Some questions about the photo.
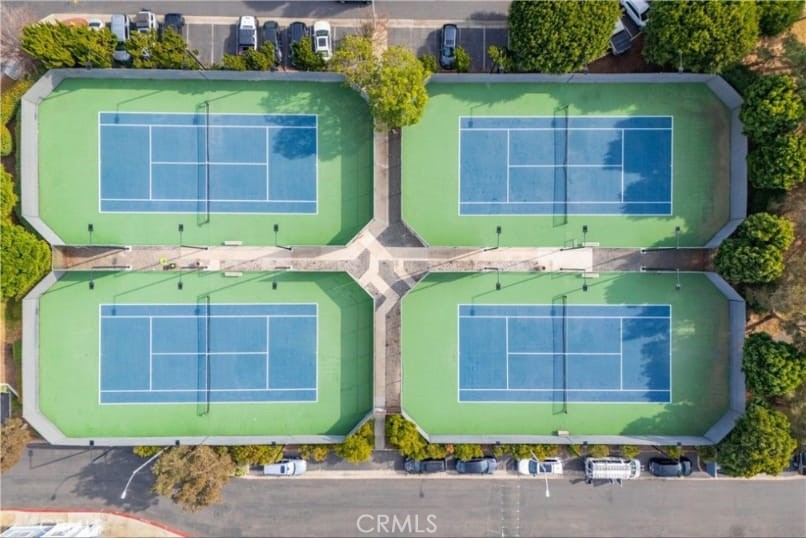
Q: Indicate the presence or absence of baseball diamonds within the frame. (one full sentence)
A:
No, I can see no baseball diamond in this picture.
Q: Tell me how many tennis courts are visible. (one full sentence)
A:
The picture shows 4 tennis courts.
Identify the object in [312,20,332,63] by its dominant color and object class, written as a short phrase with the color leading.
white car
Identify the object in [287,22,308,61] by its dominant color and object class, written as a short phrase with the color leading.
blue car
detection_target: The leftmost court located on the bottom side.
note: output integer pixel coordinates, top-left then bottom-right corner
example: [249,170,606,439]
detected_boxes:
[39,271,372,436]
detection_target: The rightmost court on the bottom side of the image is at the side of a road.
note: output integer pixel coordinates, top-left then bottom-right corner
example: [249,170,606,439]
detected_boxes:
[402,272,730,436]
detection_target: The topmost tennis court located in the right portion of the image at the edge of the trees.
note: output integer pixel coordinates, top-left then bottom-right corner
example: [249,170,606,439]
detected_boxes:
[402,82,731,247]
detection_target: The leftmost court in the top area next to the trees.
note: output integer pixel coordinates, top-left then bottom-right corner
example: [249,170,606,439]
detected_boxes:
[39,80,372,246]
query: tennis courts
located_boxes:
[402,82,731,247]
[39,80,372,246]
[39,271,372,436]
[402,272,730,436]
